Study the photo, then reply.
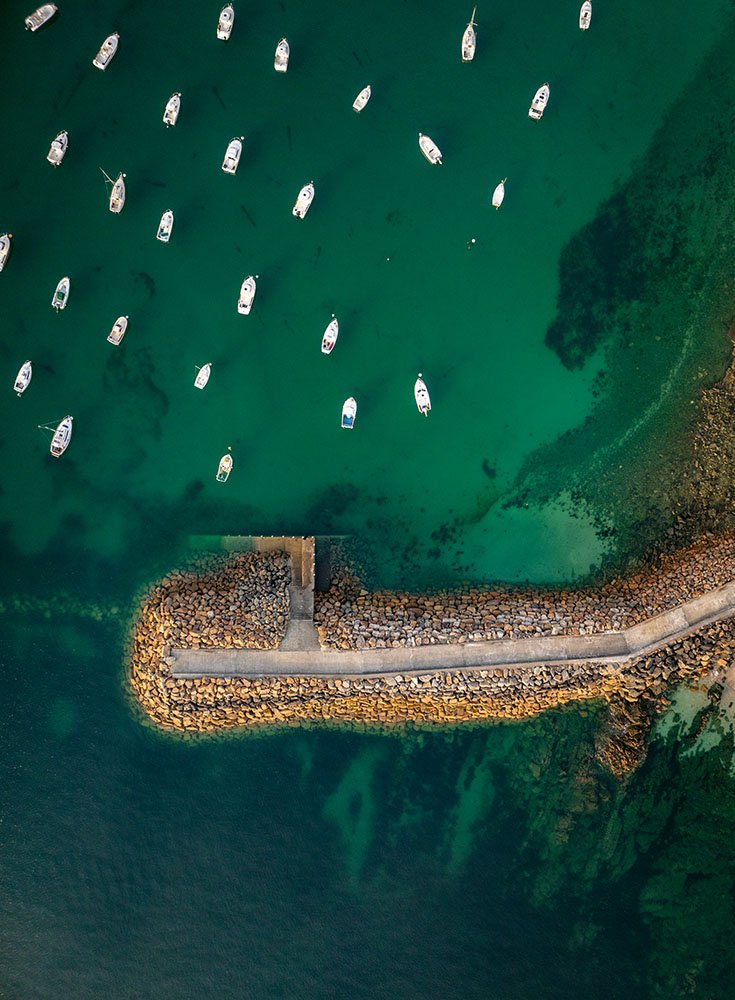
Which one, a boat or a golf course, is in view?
boat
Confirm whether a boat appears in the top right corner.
Yes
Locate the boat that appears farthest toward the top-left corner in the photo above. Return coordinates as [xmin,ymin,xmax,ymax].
[26,7,60,35]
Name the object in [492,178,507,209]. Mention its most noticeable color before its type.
white boat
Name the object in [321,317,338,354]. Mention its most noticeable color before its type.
white boat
